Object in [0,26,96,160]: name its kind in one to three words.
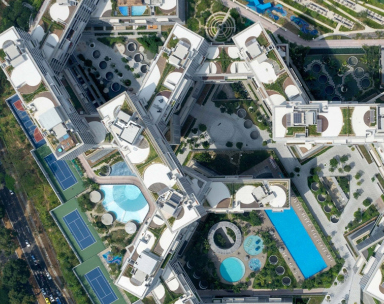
building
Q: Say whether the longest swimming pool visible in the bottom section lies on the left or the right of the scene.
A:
right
